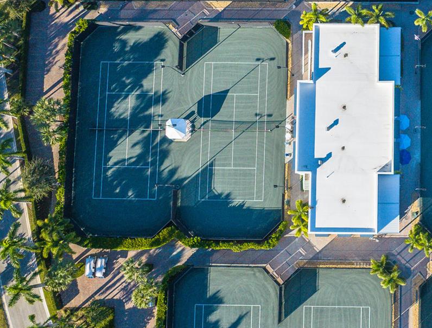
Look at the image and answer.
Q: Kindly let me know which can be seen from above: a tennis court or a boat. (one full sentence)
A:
I can see a tennis court in this picture.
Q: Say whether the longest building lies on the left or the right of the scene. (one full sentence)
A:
The longest building appears in the right half of the scene.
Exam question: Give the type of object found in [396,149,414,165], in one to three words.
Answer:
umbrella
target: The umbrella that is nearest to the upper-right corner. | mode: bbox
[395,114,412,130]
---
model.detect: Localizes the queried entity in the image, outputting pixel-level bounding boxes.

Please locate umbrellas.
[395,114,412,130]
[396,149,414,165]
[396,133,412,149]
